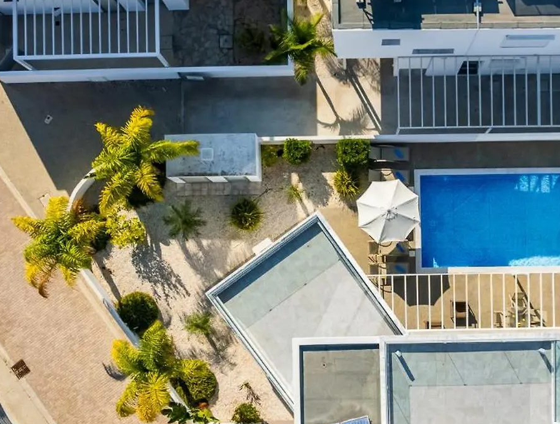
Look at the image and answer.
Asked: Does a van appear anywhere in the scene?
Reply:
No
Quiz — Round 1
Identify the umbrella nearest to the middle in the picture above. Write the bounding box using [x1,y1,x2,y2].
[355,179,421,245]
